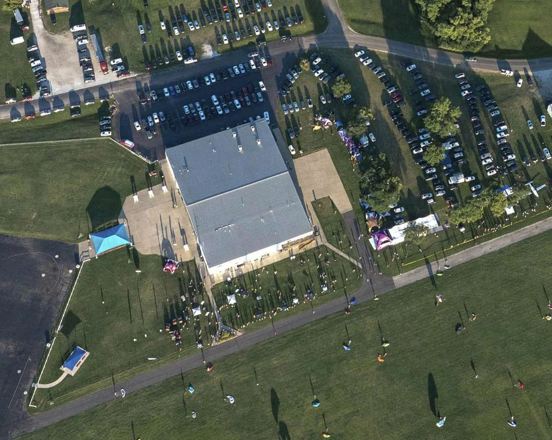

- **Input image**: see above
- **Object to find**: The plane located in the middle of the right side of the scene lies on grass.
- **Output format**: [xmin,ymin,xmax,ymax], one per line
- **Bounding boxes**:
[525,178,547,199]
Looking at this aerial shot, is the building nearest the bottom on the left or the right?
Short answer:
left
